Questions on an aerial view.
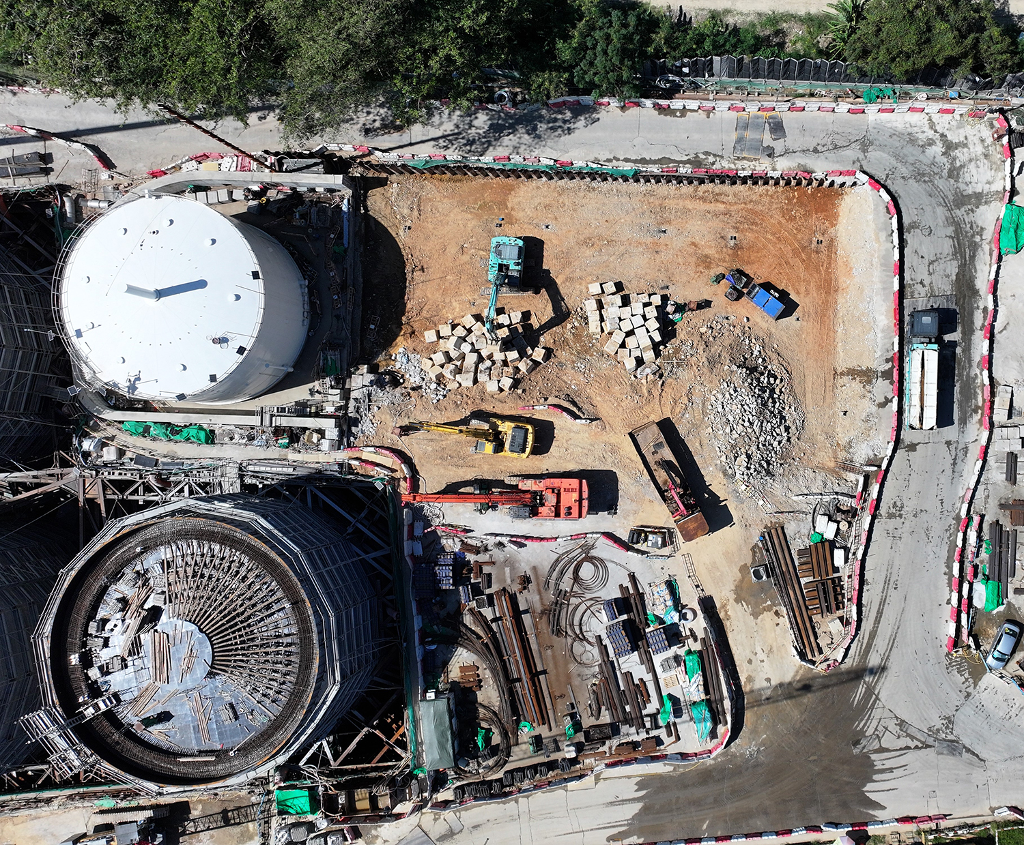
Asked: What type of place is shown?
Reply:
industrial area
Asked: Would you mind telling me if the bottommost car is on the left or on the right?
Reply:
right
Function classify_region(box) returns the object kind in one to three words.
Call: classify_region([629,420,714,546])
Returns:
truck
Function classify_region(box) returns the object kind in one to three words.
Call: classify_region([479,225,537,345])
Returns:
work vehicle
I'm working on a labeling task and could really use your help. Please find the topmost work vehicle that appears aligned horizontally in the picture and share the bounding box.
[390,414,541,459]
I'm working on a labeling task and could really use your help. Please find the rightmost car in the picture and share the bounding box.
[985,617,1022,669]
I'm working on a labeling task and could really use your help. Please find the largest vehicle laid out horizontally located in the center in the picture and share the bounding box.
[397,476,587,525]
